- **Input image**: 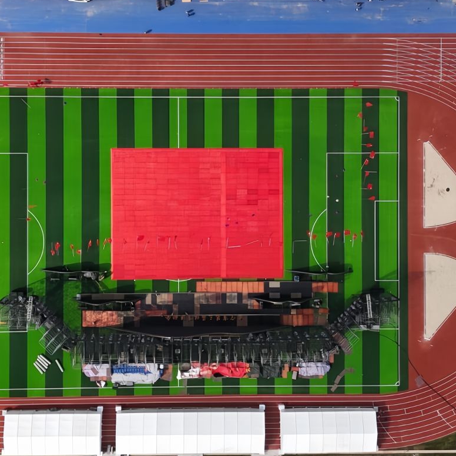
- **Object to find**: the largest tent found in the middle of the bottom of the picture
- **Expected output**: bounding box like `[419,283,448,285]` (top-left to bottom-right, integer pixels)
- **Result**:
[115,406,265,455]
